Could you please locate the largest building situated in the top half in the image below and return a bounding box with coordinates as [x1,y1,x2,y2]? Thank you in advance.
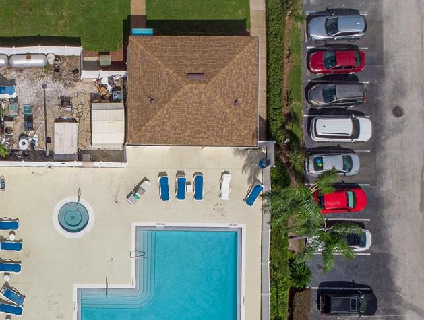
[125,28,260,149]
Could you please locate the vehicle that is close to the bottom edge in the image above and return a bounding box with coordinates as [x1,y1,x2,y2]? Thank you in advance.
[316,287,377,316]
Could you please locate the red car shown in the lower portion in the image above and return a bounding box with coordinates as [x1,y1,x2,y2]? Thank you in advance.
[310,187,367,215]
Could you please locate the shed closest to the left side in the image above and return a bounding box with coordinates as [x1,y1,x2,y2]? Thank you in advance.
[55,122,78,160]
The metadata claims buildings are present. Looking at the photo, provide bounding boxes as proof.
[55,122,78,160]
[125,28,260,149]
[92,103,124,153]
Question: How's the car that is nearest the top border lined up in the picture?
from side to side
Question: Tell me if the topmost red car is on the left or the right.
right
